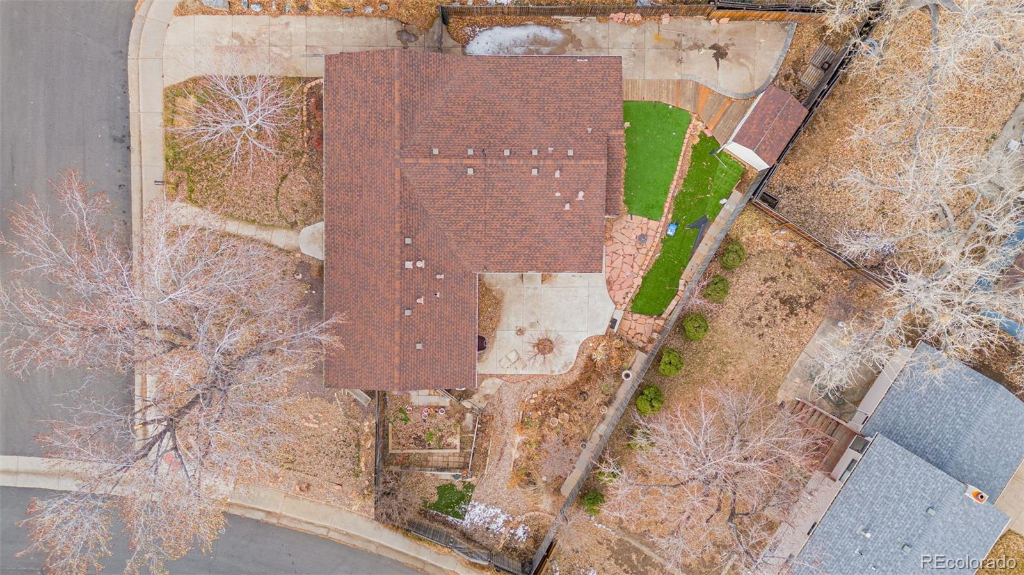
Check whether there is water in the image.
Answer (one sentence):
No, the picture contains no water.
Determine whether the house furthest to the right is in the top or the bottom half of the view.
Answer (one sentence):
It is in the bottom half that the house furthest to the right appears.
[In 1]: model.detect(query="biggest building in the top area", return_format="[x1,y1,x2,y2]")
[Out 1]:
[323,48,625,391]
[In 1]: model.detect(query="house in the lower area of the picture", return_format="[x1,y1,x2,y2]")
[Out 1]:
[771,340,1024,575]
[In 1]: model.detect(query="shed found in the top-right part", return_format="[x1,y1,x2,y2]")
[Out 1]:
[721,85,808,173]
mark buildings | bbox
[323,48,625,391]
[721,85,808,173]
[771,340,1024,575]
